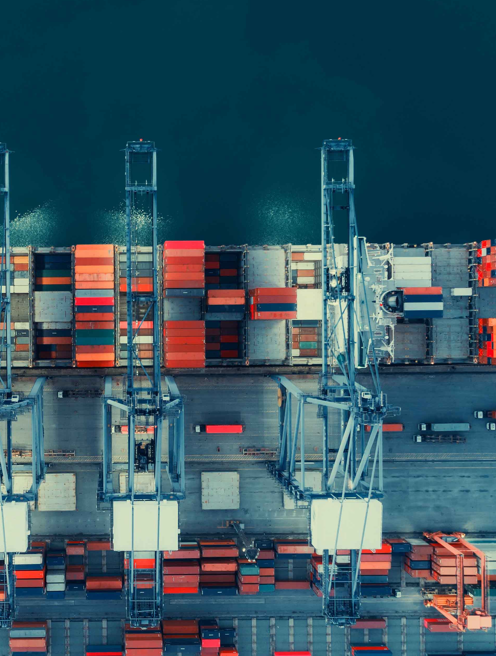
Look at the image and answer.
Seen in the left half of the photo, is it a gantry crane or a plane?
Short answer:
gantry crane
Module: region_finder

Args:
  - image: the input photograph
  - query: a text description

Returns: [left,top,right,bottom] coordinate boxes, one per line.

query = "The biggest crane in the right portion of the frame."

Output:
[263,135,388,628]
